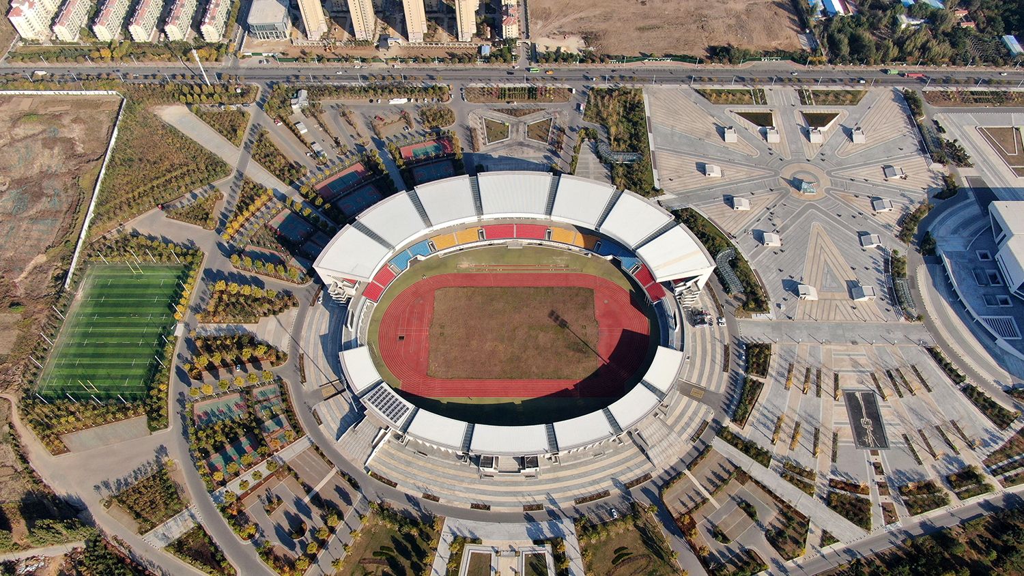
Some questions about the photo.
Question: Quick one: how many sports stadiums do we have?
1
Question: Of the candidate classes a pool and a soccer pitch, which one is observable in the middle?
soccer pitch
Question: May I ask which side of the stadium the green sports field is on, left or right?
on its left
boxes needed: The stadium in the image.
[313,170,715,476]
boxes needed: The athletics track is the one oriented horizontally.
[376,273,651,398]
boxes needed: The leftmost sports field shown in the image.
[36,262,187,402]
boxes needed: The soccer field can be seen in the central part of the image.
[427,287,599,380]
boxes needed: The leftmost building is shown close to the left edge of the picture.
[1,0,57,41]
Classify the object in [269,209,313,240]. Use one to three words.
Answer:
basketball court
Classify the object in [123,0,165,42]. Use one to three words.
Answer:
building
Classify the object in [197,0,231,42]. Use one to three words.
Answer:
building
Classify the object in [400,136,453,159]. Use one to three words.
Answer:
tennis court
